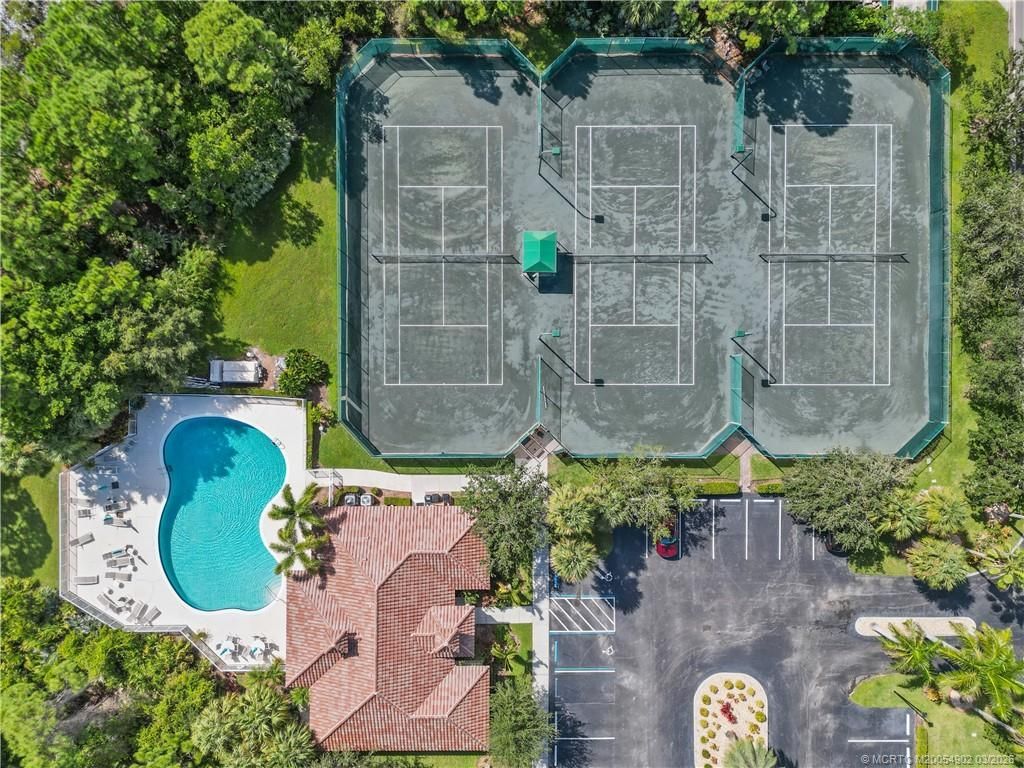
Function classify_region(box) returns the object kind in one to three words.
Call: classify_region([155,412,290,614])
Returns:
swimming pool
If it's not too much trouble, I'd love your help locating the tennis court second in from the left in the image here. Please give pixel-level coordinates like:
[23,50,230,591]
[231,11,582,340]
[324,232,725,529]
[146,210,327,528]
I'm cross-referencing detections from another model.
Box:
[539,55,732,454]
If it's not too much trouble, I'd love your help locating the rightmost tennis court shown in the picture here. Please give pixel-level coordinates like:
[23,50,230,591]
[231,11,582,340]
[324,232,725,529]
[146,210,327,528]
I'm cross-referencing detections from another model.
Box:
[731,55,928,454]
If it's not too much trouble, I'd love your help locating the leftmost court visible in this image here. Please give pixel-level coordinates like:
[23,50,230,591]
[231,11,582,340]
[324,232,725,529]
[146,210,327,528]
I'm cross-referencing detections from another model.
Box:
[345,55,540,453]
